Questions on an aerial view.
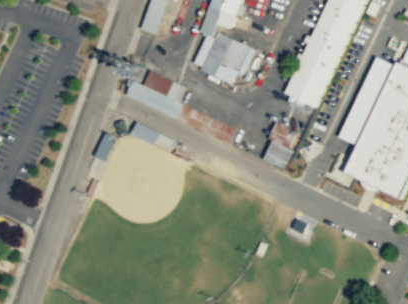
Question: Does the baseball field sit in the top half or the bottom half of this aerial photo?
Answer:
bottom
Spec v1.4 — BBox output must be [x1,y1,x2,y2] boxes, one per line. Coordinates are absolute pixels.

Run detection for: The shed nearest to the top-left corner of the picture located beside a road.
[140,0,169,35]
